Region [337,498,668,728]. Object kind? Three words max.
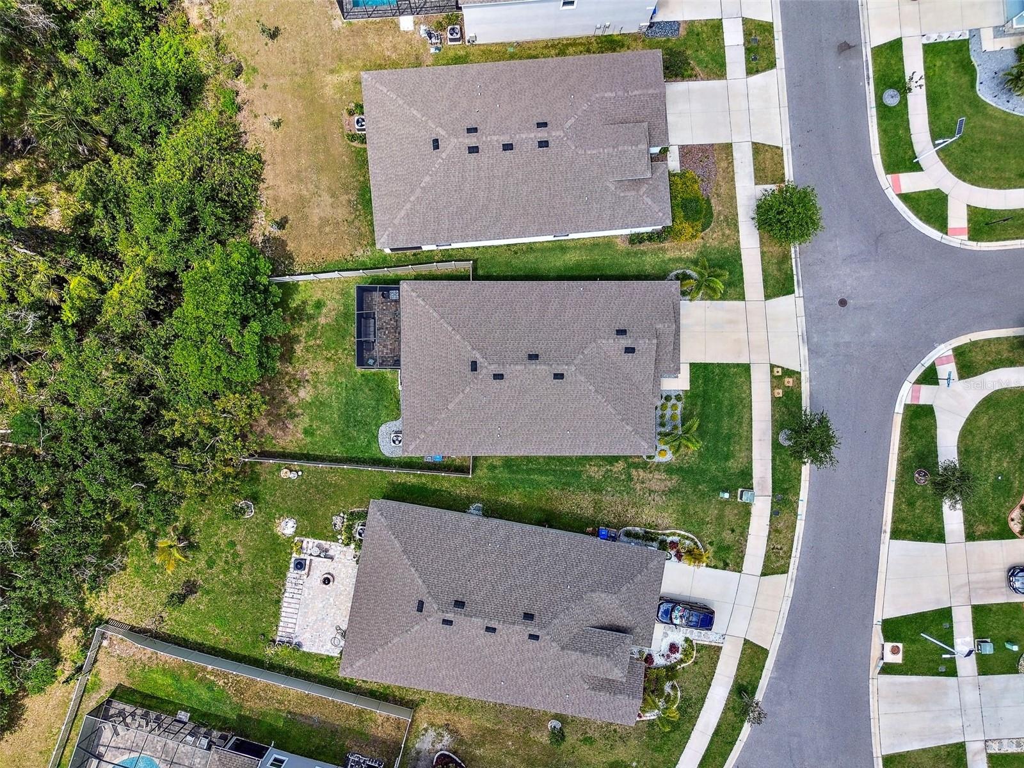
house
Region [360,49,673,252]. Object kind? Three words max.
house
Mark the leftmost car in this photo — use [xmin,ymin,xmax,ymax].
[656,595,714,627]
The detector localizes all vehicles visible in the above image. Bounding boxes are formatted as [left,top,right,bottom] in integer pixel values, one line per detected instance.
[656,595,714,627]
[1005,568,1024,593]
